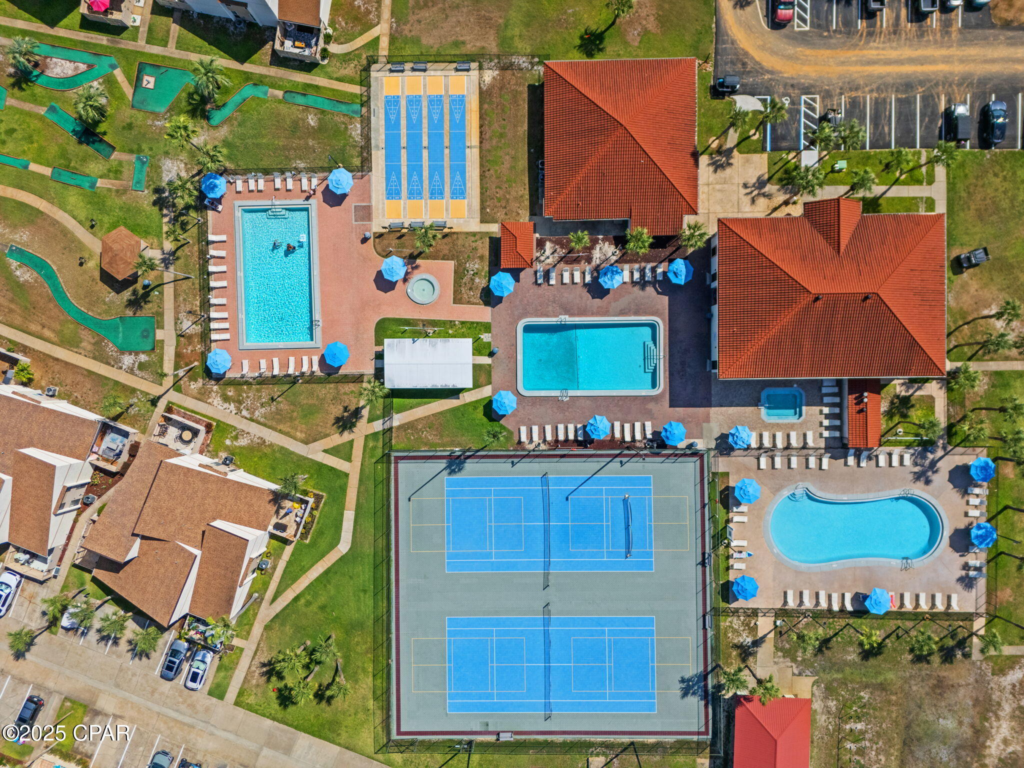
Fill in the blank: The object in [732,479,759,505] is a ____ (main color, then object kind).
blue umbrella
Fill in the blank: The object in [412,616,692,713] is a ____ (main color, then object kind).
blue tennis court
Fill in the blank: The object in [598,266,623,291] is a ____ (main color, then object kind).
blue umbrella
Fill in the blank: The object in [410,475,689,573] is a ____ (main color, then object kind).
blue tennis court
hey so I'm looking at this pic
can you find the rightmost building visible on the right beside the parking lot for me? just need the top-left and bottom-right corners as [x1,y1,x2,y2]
[706,197,948,379]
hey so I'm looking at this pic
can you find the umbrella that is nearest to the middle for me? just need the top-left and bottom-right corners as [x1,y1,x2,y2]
[492,389,517,414]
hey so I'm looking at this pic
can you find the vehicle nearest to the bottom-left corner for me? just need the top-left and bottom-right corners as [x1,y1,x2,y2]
[11,697,41,741]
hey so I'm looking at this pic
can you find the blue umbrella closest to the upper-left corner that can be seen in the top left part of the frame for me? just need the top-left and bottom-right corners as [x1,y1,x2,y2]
[203,174,229,200]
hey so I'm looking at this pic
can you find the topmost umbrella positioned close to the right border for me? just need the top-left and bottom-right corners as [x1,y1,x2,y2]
[966,457,994,483]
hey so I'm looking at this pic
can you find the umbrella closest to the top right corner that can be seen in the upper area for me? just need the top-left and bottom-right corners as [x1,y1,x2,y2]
[668,258,694,284]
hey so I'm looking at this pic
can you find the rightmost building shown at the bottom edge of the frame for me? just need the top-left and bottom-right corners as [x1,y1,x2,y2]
[730,690,812,768]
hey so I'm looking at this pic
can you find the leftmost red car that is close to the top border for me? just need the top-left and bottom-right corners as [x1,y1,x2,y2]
[773,0,793,24]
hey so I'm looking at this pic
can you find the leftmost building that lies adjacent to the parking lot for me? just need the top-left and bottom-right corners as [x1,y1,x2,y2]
[543,56,700,239]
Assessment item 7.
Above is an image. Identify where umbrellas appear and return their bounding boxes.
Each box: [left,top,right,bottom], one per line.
[966,457,994,483]
[864,589,889,613]
[598,266,623,291]
[730,574,757,600]
[208,350,233,375]
[329,169,355,196]
[732,479,759,505]
[487,270,513,297]
[966,521,995,547]
[381,255,406,280]
[726,423,753,450]
[492,389,517,414]
[668,258,694,284]
[663,420,688,446]
[326,343,351,368]
[585,416,610,441]
[203,174,229,200]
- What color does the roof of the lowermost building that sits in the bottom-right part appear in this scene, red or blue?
red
